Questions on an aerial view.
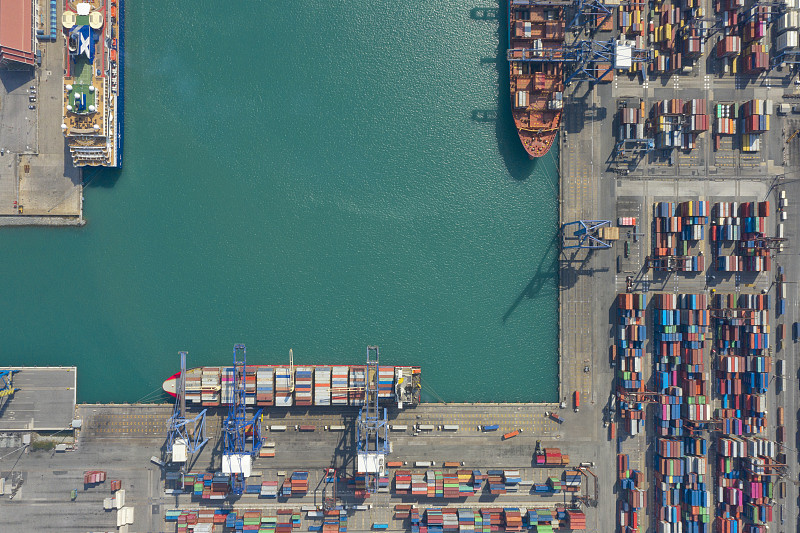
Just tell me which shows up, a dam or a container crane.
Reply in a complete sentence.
There is a container crane in the scene.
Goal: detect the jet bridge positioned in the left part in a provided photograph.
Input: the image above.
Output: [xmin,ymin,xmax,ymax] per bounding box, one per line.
[37,0,61,45]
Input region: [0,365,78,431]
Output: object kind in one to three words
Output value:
pier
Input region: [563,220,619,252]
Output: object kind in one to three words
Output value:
container crane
